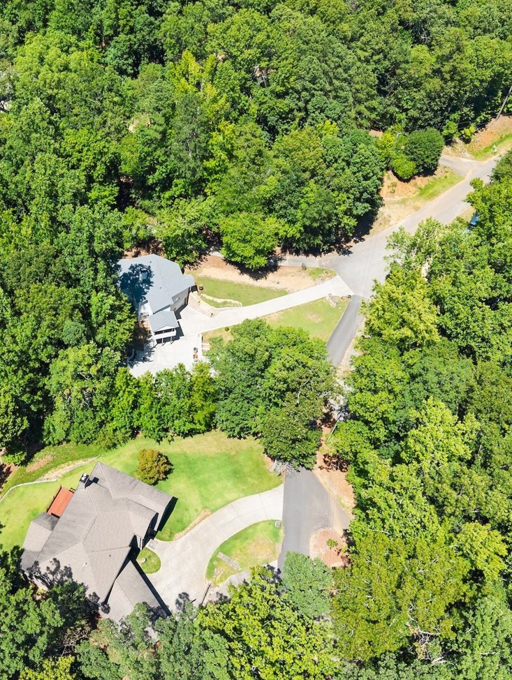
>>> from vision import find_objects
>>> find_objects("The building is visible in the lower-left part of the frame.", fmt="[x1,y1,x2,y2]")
[20,462,172,629]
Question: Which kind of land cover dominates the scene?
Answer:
trees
